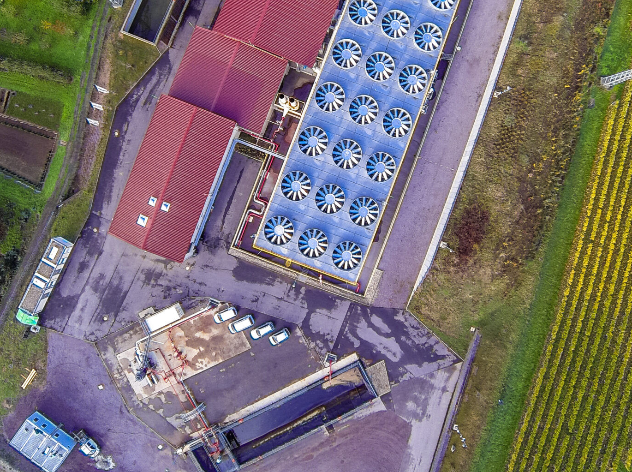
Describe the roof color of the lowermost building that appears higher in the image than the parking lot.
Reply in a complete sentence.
The roof over the lowermost building that appears higher in the image than the parking lot appears red.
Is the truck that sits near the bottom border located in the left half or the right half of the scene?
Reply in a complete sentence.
The truck that sits near the bottom border sits on the left side.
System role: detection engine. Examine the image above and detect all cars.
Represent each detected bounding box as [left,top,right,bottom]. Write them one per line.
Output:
[211,307,238,324]
[268,328,292,346]
[249,322,276,340]
[226,315,256,335]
